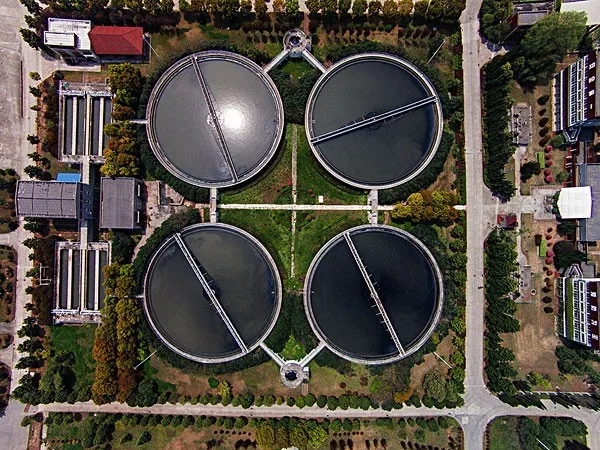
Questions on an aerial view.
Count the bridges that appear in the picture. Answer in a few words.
4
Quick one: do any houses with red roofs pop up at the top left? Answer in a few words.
Yes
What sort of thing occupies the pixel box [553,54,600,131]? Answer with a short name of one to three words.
building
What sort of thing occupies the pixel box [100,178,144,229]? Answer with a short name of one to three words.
house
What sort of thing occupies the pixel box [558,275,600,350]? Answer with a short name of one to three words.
building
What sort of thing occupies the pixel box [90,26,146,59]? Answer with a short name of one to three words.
house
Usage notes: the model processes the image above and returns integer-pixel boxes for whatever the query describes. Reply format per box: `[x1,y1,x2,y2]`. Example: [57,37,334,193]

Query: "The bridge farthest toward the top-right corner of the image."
[309,96,439,145]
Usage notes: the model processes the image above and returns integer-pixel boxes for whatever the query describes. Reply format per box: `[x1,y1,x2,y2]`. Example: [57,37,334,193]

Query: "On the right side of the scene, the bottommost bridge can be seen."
[343,233,407,355]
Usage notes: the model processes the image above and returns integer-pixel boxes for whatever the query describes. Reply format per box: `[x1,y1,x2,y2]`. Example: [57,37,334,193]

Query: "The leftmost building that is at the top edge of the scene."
[43,17,98,58]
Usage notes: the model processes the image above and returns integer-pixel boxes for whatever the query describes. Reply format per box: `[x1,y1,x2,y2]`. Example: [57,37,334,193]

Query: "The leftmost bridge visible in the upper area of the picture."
[190,54,241,184]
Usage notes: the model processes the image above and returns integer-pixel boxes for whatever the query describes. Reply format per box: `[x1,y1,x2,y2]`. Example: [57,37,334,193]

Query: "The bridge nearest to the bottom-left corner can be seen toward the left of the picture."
[173,234,251,353]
